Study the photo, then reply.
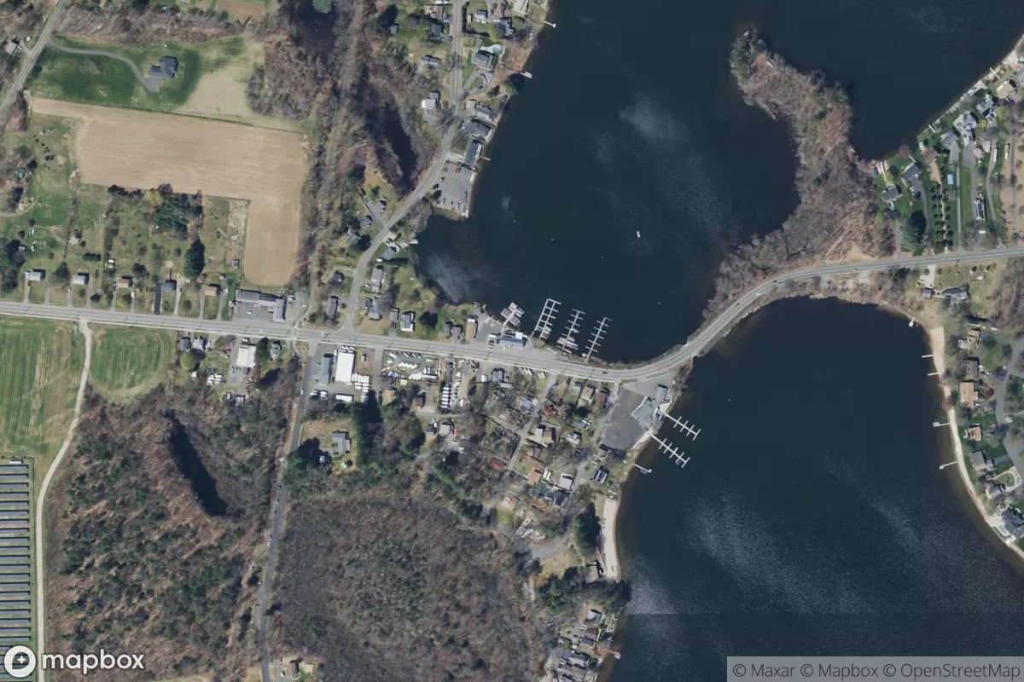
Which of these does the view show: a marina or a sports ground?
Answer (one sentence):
What you see here is a marina.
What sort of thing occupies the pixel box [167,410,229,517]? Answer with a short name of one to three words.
pond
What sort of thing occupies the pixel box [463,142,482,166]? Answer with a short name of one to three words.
house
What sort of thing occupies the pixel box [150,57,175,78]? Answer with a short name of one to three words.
house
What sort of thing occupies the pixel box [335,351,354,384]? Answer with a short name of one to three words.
building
